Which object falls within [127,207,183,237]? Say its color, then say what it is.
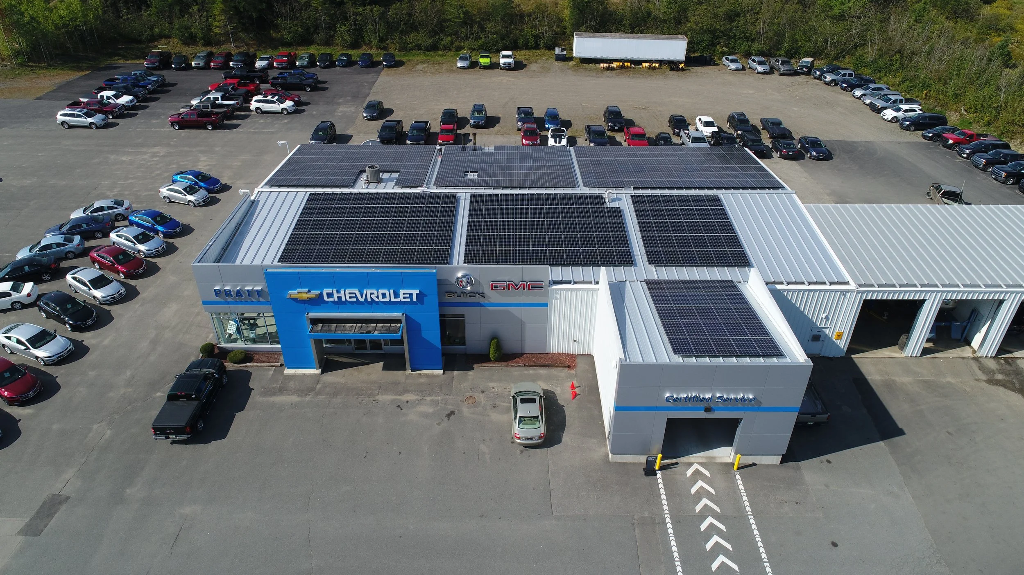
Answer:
blue car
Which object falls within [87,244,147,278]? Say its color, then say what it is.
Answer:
red car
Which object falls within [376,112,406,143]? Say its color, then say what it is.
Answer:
black truck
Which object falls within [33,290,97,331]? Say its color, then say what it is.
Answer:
black car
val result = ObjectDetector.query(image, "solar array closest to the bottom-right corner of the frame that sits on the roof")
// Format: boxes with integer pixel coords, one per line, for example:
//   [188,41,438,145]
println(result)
[647,278,784,354]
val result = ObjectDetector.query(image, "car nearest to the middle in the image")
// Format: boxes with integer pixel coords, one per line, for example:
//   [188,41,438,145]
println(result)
[509,379,546,442]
